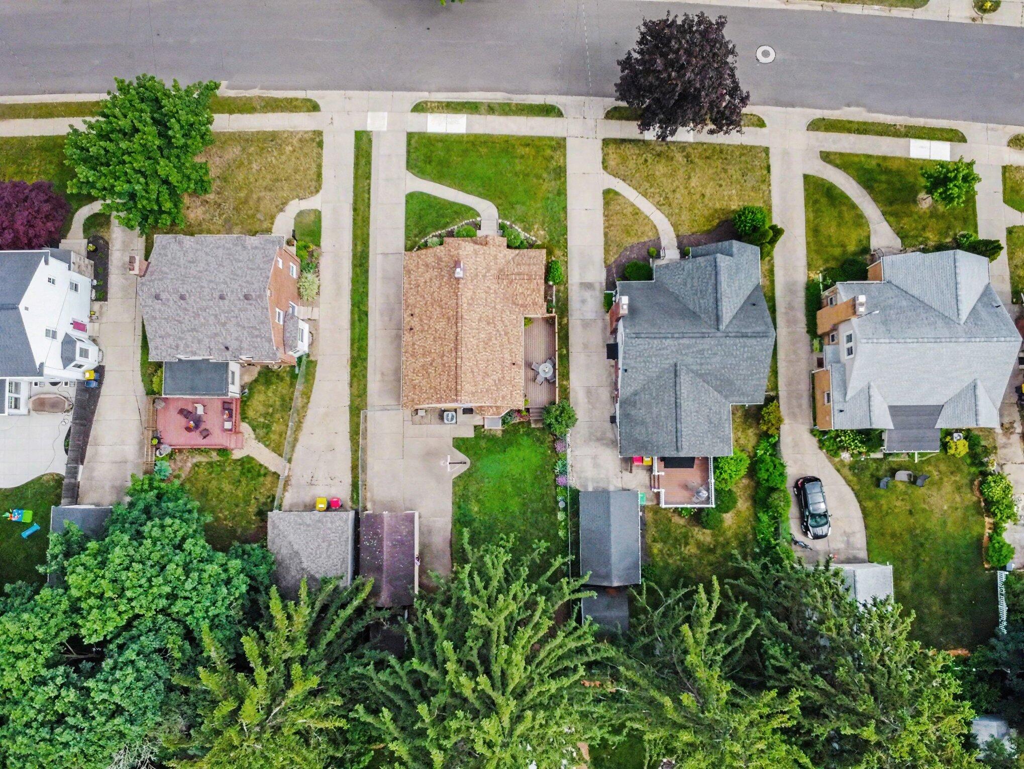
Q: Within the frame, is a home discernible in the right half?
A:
Yes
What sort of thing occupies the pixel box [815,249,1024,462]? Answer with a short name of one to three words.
house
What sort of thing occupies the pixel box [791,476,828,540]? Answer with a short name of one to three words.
car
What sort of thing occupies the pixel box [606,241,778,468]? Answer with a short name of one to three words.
house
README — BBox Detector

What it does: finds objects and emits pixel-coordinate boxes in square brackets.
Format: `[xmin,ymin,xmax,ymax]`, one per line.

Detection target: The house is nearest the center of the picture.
[399,235,547,418]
